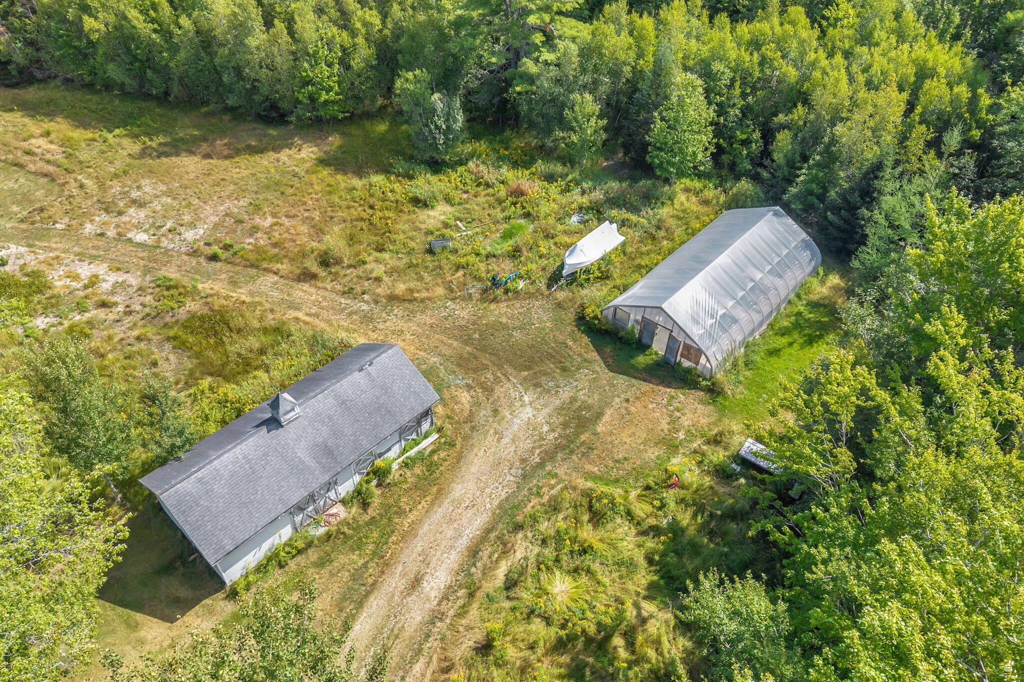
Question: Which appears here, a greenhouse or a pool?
greenhouse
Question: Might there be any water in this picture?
No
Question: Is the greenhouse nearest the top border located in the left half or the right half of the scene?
right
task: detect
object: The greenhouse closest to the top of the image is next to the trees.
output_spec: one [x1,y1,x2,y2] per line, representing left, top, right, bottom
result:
[602,205,820,381]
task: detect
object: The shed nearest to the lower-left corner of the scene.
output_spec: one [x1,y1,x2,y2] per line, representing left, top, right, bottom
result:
[139,343,442,587]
